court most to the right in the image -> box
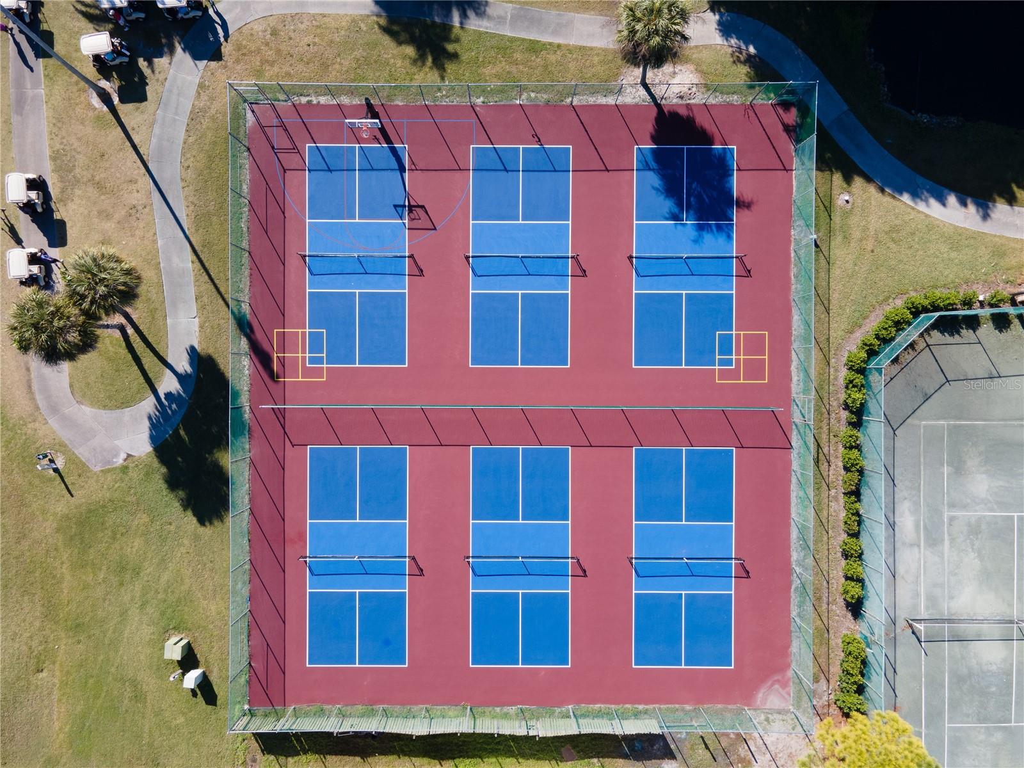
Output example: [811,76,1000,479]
[860,309,1024,768]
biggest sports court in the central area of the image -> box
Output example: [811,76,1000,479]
[247,103,796,709]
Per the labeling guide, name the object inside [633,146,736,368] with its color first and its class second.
blue sports court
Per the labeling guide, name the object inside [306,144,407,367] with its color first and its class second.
blue sports court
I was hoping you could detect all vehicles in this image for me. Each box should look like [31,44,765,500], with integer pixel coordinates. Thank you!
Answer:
[6,245,49,289]
[82,30,134,68]
[101,0,151,21]
[0,0,37,22]
[161,0,209,22]
[5,173,47,215]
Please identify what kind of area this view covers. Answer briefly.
sports ground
